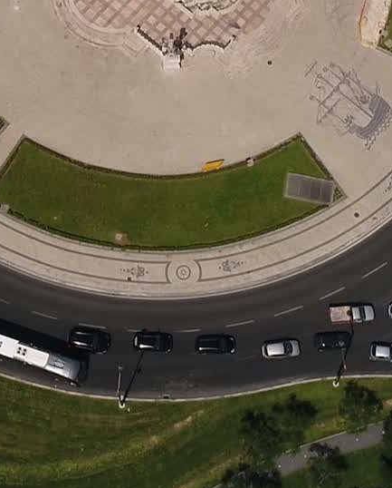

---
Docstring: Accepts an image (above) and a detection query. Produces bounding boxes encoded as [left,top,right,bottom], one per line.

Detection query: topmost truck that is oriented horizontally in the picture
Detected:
[331,303,376,325]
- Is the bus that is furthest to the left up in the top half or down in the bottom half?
bottom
